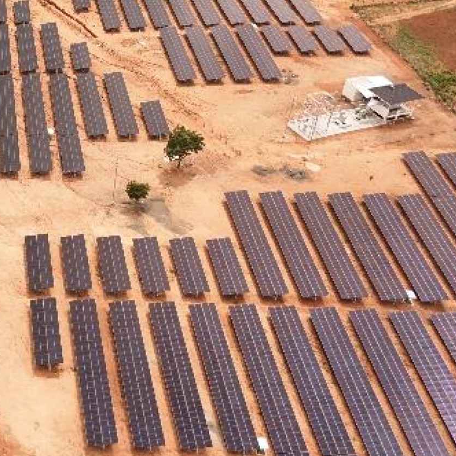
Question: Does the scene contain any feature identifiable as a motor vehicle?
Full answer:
No, the picture doesn't show any motor vehicle.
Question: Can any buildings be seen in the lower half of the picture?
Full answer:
No, no building can be made out in the lower half of the picture.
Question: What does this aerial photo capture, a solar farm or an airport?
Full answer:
This looks like a solar farm.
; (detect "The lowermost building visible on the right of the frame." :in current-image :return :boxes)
[362,98,398,124]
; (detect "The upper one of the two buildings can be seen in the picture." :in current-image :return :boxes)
[343,72,396,108]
